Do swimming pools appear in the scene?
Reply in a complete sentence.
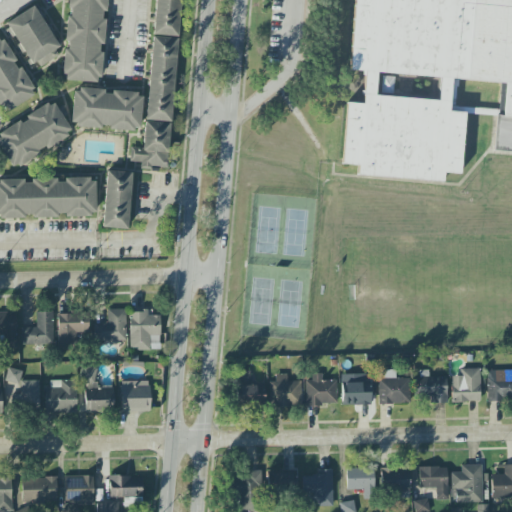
Yes, there is a swimming pool in the image.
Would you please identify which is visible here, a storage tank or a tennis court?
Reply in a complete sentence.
Looking from above, you can make out a tennis court.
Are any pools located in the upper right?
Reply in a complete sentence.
No, there is no pool in the upper right.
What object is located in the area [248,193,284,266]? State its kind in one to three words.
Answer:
tennis court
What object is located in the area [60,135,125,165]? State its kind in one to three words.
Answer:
swimming pool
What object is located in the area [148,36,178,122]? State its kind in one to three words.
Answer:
building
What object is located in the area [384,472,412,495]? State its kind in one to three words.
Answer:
house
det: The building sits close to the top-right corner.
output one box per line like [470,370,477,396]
[342,0,512,182]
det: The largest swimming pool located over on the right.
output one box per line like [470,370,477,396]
[450,354,467,376]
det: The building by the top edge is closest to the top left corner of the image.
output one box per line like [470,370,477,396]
[8,6,62,64]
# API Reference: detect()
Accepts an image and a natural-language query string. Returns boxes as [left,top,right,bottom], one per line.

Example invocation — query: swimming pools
[102,341,125,356]
[60,135,125,165]
[450,354,467,376]
[118,366,148,381]
[98,364,115,386]
[340,359,352,370]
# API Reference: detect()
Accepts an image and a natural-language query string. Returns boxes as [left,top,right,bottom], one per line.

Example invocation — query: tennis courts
[278,196,317,268]
[242,266,278,338]
[273,267,312,340]
[248,193,284,266]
